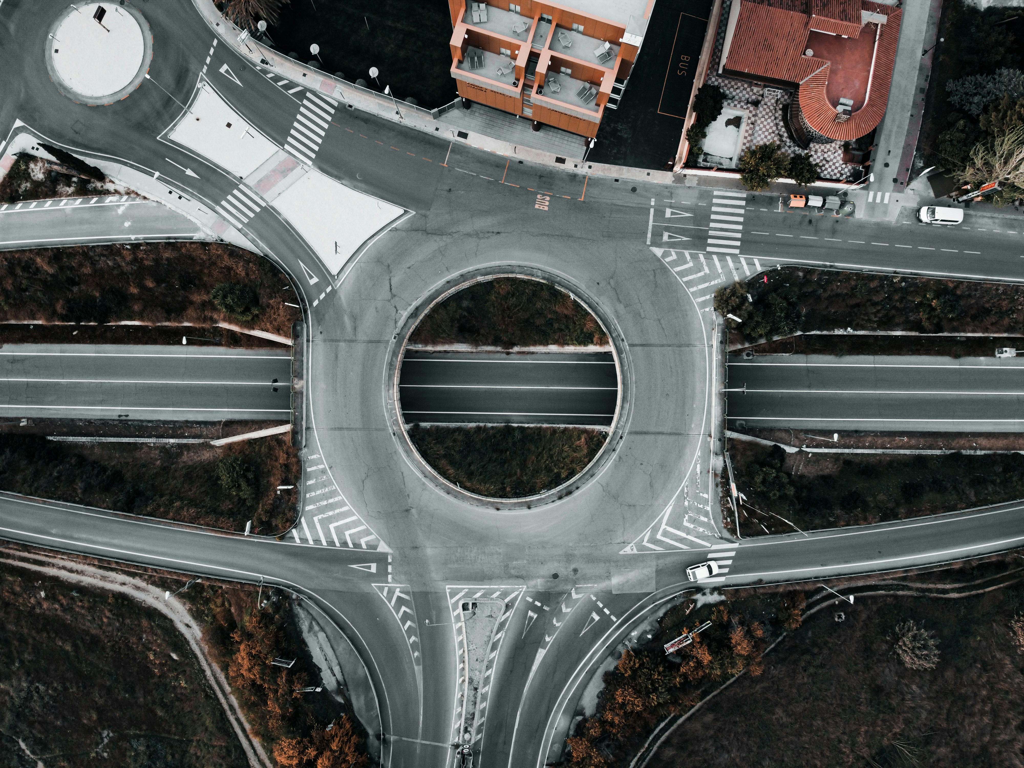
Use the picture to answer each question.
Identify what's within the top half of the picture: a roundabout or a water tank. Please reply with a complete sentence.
Visible within the top half of the picture is a roundabout.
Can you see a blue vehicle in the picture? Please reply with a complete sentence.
No, I can't see a single blue vehicle in this photo.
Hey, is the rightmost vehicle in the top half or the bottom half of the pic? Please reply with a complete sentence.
The rightmost vehicle is in the top half of the image.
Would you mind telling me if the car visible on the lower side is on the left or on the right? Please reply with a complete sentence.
It is on the right.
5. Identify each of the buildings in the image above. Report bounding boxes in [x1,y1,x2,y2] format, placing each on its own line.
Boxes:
[719,0,903,154]
[448,0,656,143]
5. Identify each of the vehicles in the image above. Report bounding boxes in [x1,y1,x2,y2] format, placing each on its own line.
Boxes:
[916,204,964,225]
[685,561,720,583]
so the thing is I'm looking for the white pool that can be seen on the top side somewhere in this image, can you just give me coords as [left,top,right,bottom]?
[698,106,750,170]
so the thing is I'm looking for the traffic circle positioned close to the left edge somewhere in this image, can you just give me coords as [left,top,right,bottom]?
[44,0,154,105]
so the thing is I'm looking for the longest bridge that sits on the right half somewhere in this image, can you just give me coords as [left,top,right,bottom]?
[715,324,730,458]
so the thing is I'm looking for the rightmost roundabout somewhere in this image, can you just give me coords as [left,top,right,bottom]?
[307,205,712,592]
